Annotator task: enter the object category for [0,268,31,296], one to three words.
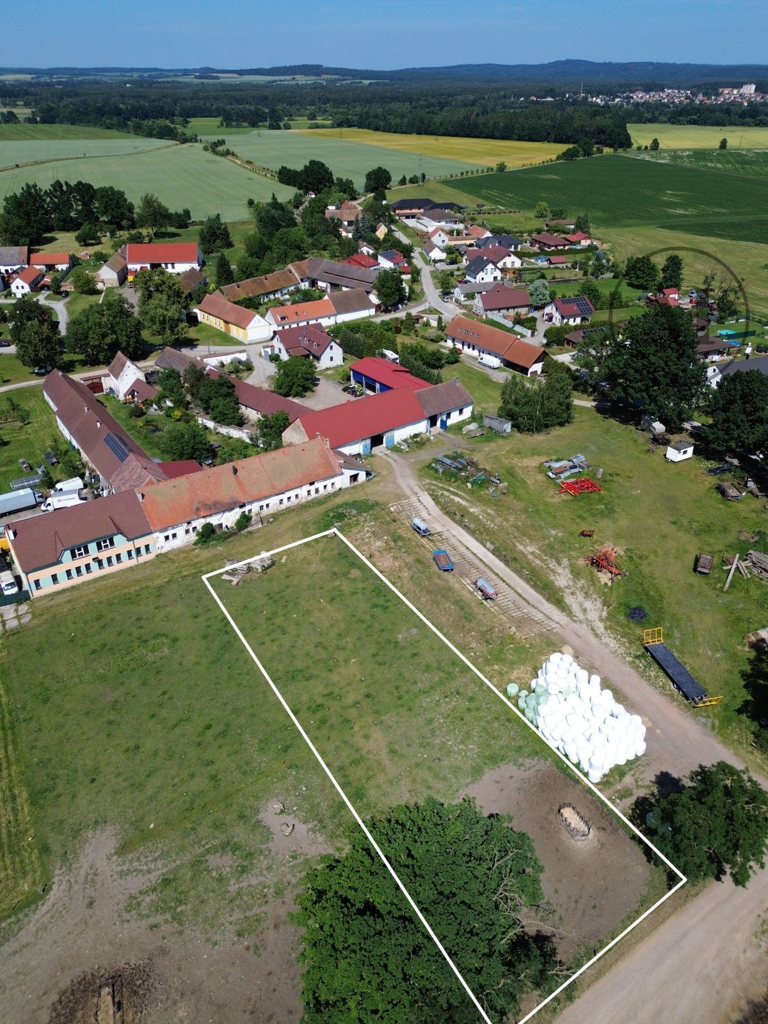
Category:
house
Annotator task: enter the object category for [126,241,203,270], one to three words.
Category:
barn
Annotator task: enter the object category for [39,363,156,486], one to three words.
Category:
house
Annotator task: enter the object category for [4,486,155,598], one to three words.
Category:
building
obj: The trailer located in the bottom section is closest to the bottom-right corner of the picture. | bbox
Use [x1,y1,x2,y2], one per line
[644,629,713,703]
